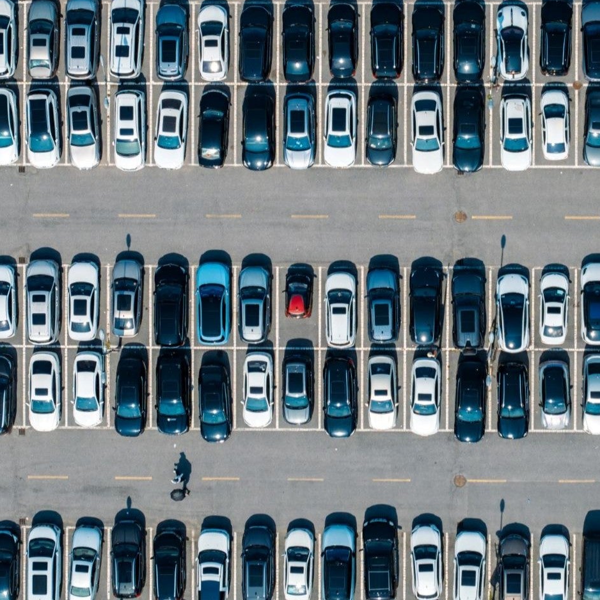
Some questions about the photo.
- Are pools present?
No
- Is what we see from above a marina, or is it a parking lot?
parking lot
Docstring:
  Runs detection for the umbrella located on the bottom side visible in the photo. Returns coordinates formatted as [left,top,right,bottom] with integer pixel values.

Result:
[173,486,188,502]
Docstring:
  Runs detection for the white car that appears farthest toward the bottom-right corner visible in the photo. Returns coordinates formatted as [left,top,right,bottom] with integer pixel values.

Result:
[536,533,574,600]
